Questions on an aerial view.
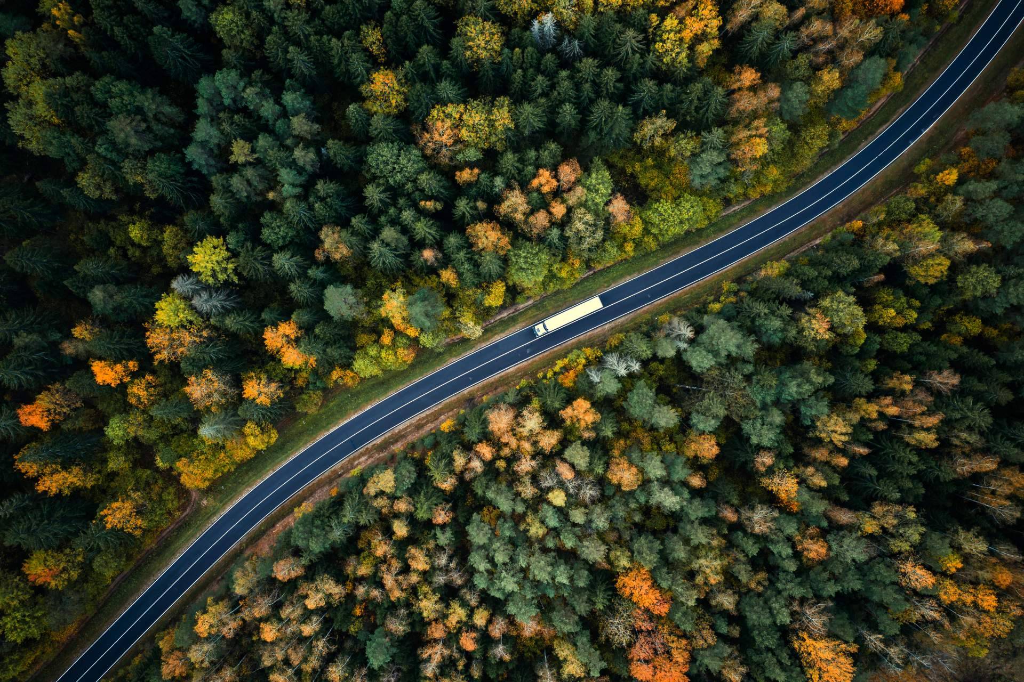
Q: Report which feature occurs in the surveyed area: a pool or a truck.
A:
truck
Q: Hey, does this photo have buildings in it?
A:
No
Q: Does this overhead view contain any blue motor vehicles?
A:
No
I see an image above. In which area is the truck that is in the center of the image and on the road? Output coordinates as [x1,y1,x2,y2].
[531,297,603,338]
